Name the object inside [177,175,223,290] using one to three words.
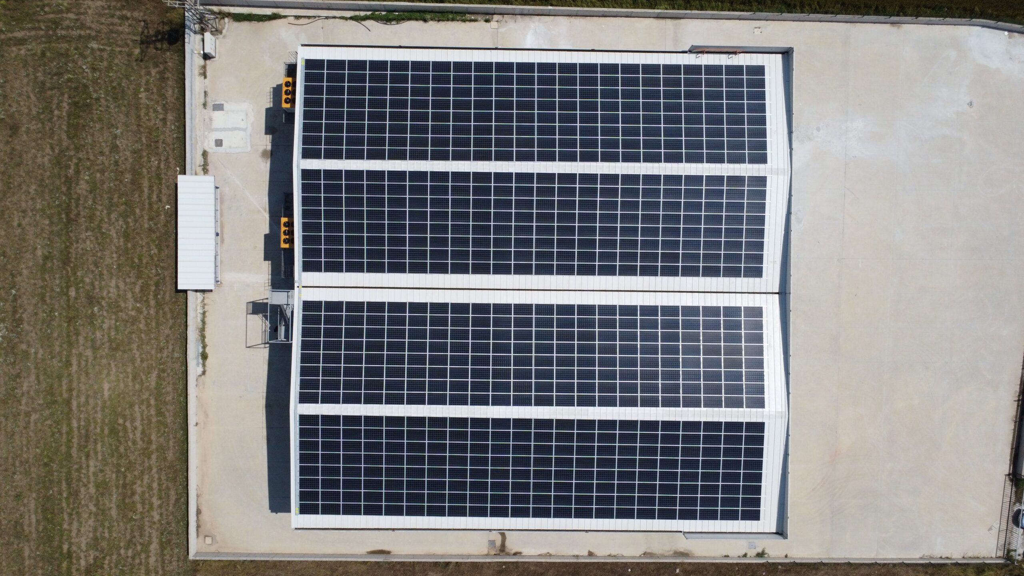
shed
